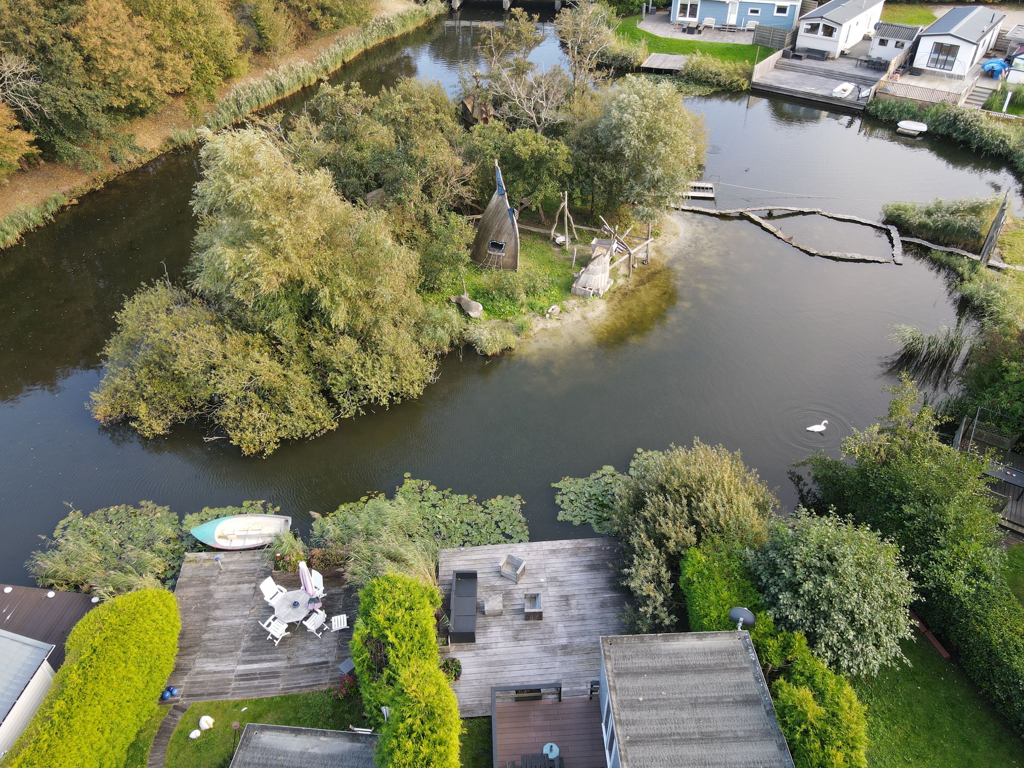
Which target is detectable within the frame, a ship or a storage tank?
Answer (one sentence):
There is a ship in the scene.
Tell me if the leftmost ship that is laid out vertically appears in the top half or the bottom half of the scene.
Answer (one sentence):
You can find the leftmost ship that is laid out vertically in the top half.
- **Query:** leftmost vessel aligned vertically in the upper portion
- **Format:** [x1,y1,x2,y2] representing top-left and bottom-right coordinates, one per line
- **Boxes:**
[471,159,520,273]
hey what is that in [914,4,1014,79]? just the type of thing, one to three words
house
